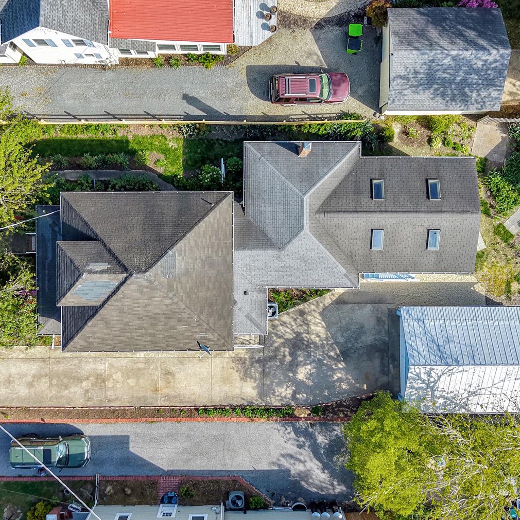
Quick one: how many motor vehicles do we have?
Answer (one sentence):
The photo contains 2 motor vehicles.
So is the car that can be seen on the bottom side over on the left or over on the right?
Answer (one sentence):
The car that can be seen on the bottom side is on the left side of the image.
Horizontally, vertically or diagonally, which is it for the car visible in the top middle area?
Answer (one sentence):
Seen from above, the car visible in the top middle area lies horizontally.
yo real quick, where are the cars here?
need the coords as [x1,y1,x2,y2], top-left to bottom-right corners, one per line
[268,69,350,108]
[10,429,93,471]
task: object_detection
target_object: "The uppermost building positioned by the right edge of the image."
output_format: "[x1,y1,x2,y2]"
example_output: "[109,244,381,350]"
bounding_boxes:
[377,7,512,117]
